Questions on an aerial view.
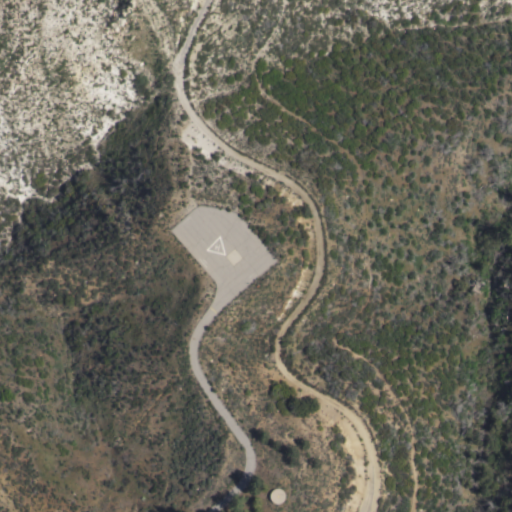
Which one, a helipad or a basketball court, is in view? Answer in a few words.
helipad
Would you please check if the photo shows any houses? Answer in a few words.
No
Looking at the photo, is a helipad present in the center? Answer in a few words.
Yes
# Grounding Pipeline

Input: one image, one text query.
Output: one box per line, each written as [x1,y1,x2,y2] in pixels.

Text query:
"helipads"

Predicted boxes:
[172,206,276,313]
